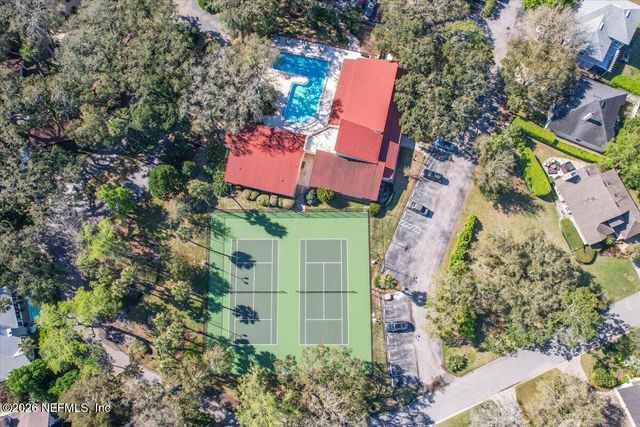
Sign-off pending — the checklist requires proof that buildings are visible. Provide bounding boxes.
[544,78,628,153]
[564,0,640,81]
[0,408,56,427]
[609,375,640,427]
[310,59,411,201]
[0,289,38,381]
[550,163,640,244]
[225,119,308,197]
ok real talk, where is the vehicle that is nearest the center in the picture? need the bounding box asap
[409,199,434,216]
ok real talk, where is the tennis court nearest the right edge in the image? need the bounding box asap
[288,212,371,376]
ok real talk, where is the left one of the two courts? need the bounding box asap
[206,212,289,376]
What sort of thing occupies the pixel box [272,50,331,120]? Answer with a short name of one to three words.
swimming pool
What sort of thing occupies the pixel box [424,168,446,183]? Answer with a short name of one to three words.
car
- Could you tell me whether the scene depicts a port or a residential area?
residential area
